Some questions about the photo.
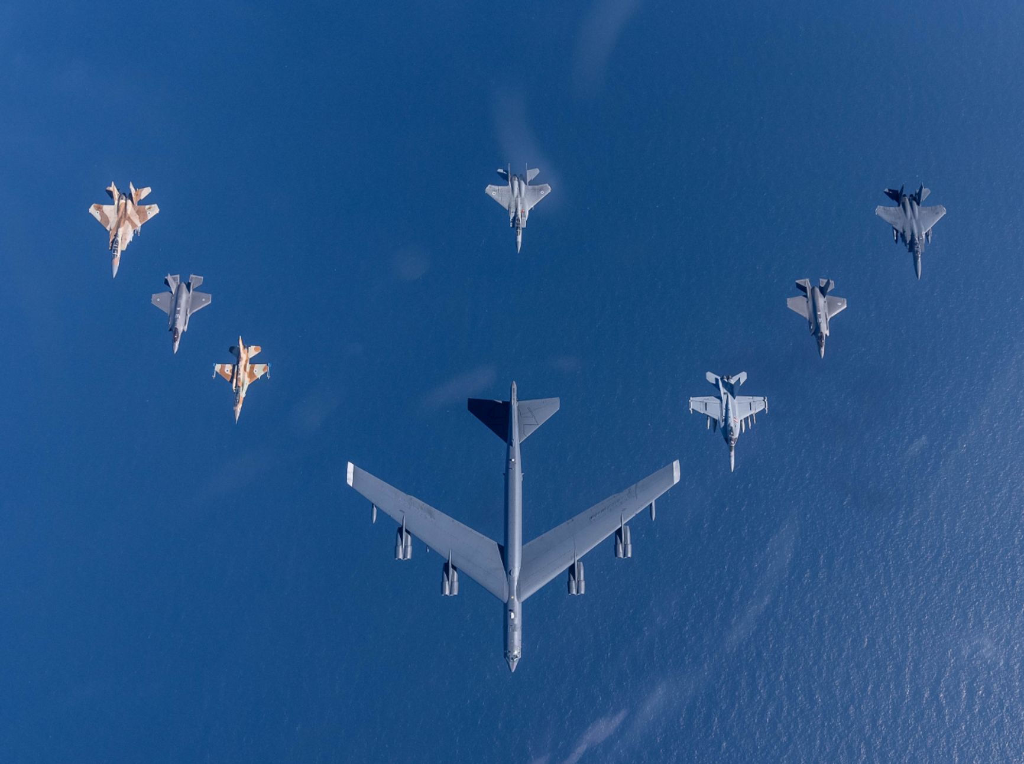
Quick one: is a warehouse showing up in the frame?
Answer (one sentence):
No, I can't see a single warehouse in this photo.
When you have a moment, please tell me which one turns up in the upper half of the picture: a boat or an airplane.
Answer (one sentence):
There is an airplane in the upper half of the picture.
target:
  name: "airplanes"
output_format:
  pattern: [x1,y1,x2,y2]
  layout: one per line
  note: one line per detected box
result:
[690,372,767,472]
[486,162,551,253]
[151,275,212,353]
[786,279,847,358]
[89,181,159,278]
[213,338,271,421]
[875,182,946,280]
[346,382,680,672]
